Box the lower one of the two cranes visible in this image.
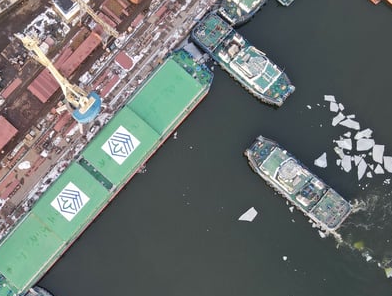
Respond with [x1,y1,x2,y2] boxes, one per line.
[16,37,109,134]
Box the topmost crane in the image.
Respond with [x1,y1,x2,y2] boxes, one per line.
[74,0,128,62]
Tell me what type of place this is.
port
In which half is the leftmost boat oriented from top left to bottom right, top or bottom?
top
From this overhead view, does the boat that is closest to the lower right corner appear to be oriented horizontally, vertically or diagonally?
diagonally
